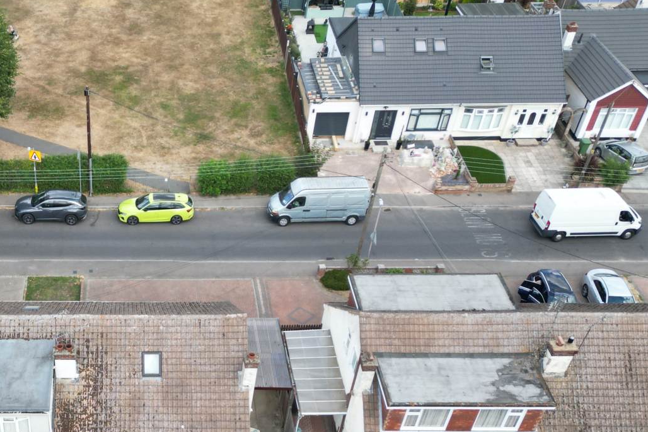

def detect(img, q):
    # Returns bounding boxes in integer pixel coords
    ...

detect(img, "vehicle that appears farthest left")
[14,187,89,224]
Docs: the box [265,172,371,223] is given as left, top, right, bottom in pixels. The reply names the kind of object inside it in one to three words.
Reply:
van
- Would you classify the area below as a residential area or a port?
residential area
